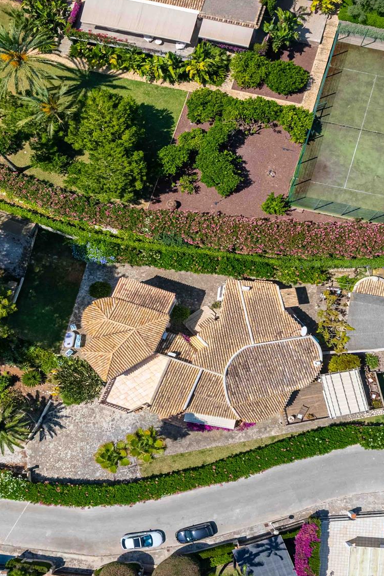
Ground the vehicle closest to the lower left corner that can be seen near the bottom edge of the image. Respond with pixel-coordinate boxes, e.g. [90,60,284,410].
[121,528,164,551]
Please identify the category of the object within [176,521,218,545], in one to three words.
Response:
car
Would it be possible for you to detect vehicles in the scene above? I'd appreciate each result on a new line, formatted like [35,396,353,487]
[176,521,218,545]
[121,528,164,551]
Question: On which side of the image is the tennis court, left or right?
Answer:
right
